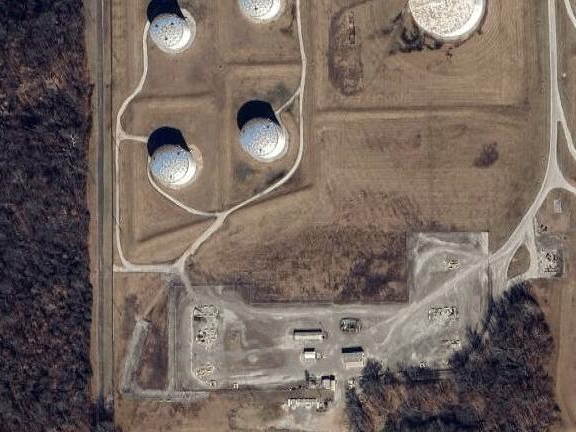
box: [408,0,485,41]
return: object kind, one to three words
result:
storage tank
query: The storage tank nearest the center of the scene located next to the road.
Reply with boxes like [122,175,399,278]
[240,118,284,160]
